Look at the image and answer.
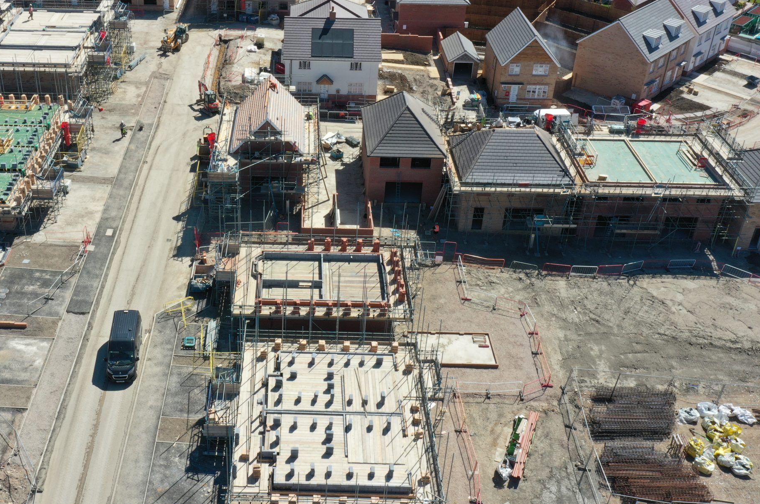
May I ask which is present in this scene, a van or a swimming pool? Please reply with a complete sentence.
There is a van in the scene.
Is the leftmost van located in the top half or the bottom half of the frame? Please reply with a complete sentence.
You can find the leftmost van in the bottom half.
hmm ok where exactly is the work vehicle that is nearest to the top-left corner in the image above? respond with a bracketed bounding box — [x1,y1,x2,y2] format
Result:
[159,22,191,48]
